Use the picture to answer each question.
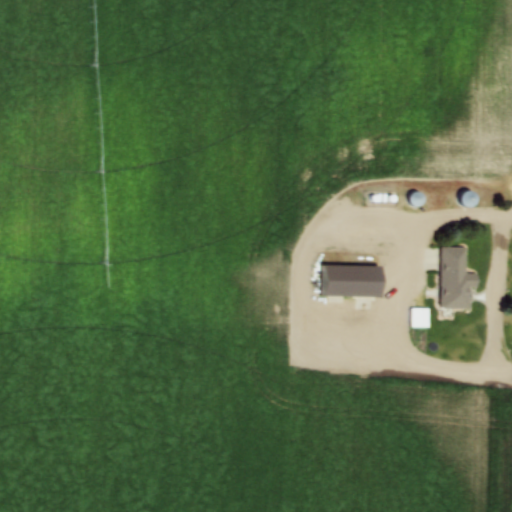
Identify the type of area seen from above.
farmland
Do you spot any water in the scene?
No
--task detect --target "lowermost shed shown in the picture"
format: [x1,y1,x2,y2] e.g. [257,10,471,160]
[410,308,430,328]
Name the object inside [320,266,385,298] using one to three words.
shed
